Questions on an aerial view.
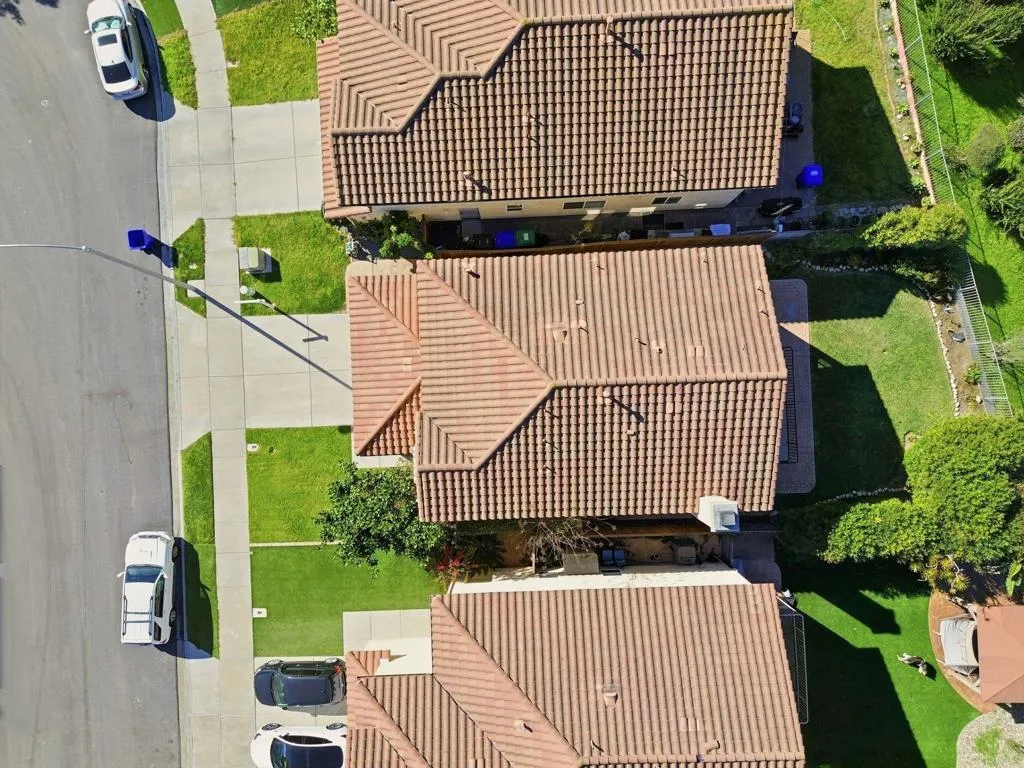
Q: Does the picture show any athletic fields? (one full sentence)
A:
No, no athletic field is visible in the view.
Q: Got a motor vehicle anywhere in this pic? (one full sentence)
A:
Yes, this view includes a motor vehicle.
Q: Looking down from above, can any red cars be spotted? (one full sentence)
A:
No, the photo shows no red car.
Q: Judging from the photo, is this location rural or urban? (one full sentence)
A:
From above, the setting appears urban.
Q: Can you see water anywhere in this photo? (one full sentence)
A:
No, no water is visible.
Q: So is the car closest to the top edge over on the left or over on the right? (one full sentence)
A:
The car closest to the top edge is on the left side of the image.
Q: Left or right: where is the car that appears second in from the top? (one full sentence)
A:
The car that appears second in from the top sits on the left side.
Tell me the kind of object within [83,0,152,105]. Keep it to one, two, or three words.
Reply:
car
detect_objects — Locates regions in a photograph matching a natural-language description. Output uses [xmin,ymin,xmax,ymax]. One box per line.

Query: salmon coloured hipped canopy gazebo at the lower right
[940,590,1024,709]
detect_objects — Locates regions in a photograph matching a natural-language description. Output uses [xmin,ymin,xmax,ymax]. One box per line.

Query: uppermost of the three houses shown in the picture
[317,0,798,237]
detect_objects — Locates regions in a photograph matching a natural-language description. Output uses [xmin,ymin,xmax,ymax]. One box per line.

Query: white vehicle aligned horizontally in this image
[249,723,348,768]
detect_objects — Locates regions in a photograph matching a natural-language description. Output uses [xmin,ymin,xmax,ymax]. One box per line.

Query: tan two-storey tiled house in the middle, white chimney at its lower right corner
[346,244,802,532]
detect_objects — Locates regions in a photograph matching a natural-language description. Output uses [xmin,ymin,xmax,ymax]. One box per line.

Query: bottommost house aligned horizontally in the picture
[344,561,808,768]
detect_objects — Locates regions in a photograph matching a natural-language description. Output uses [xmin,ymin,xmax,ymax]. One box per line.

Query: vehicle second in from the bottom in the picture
[254,659,347,712]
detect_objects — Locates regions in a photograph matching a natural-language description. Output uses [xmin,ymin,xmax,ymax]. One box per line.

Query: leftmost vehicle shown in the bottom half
[118,531,179,645]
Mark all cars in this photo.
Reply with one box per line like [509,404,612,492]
[249,723,348,768]
[118,531,179,645]
[254,659,347,712]
[83,0,152,105]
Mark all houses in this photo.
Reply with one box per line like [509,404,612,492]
[346,244,802,532]
[317,0,798,237]
[344,561,808,768]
